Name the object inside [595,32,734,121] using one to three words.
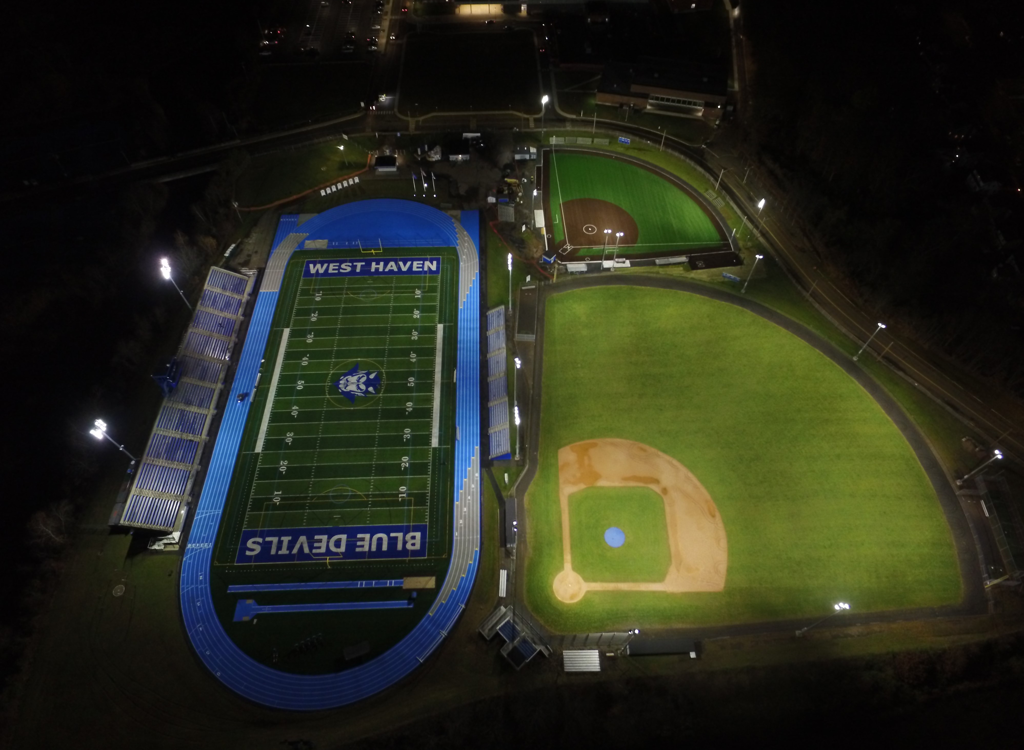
building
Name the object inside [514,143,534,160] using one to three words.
shed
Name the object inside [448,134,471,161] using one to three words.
building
